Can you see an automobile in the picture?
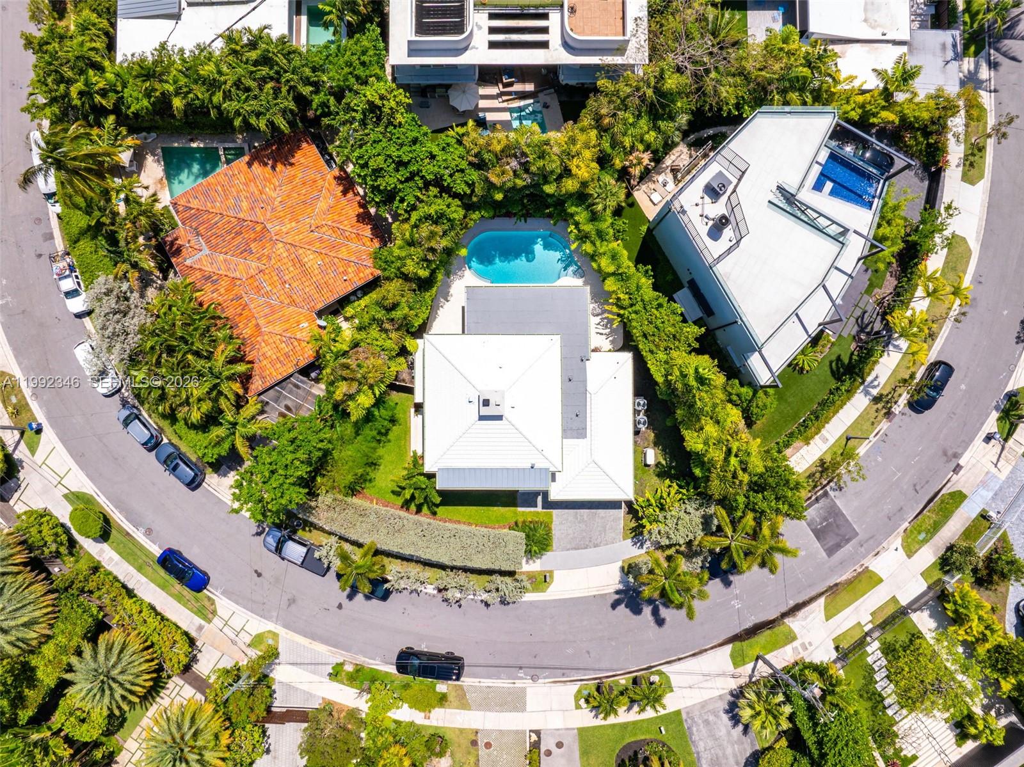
Yes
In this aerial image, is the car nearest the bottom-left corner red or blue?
blue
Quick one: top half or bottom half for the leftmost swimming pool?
top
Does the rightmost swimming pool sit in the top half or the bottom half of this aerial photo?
top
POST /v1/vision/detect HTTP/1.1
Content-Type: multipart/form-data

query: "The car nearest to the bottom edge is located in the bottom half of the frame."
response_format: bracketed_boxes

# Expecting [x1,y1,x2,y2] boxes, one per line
[395,643,467,685]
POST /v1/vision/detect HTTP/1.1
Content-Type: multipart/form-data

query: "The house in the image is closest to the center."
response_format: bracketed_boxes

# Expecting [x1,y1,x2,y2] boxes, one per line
[411,286,635,509]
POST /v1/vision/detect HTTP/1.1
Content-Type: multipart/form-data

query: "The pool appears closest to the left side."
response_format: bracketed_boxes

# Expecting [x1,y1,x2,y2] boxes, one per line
[158,143,227,203]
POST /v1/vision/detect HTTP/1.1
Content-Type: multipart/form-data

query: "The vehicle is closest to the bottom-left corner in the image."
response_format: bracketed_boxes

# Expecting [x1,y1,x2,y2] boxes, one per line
[156,542,213,593]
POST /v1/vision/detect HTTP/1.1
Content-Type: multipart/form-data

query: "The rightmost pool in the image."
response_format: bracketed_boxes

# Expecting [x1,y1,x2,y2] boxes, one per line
[812,159,872,208]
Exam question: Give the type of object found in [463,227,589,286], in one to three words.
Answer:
swimming pool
